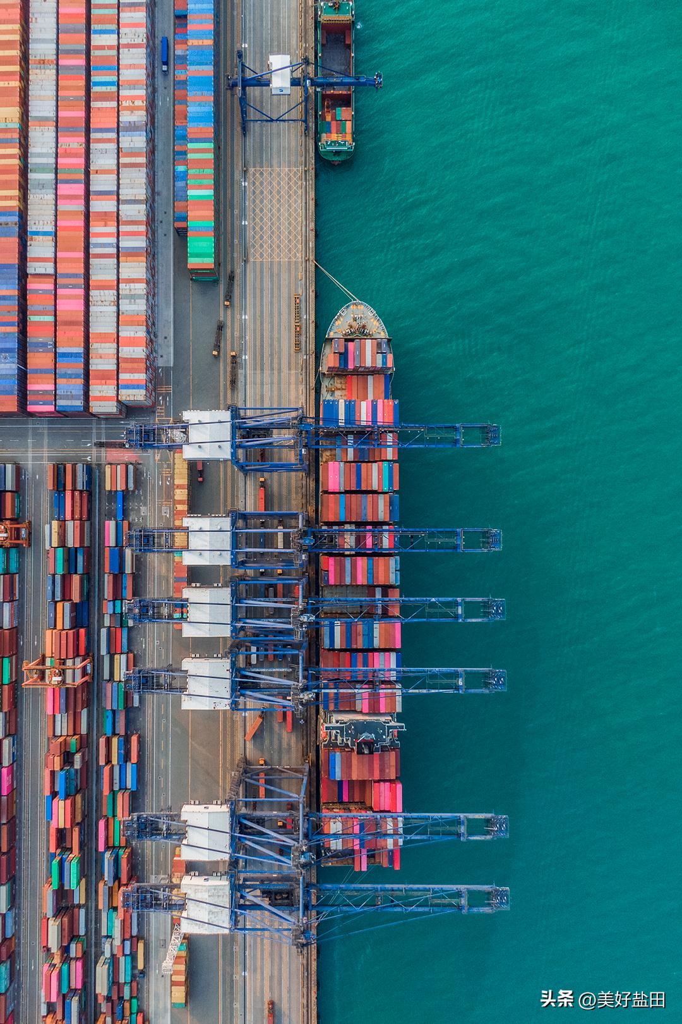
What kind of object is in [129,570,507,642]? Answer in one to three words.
container crane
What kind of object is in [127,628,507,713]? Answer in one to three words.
container crane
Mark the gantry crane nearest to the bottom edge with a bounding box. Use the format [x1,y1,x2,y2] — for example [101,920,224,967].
[123,819,510,948]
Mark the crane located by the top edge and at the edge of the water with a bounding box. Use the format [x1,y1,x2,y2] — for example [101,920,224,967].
[224,45,383,143]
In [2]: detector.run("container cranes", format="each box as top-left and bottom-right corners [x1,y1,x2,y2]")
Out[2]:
[126,750,509,870]
[20,652,94,688]
[224,45,383,143]
[0,519,29,548]
[129,502,503,572]
[127,628,507,713]
[123,819,510,948]
[127,398,502,485]
[129,570,507,642]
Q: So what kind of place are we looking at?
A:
port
